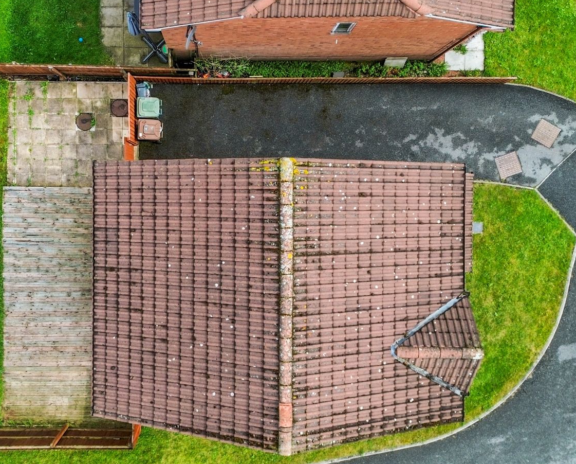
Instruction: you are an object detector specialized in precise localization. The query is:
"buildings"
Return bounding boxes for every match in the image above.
[89,154,486,453]
[138,0,517,64]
